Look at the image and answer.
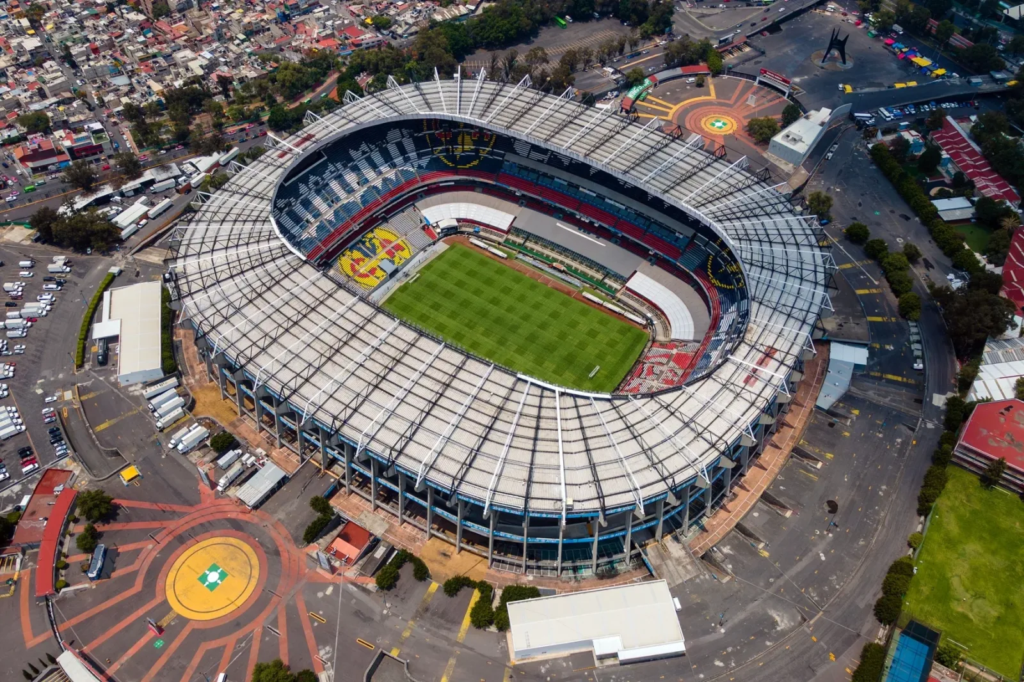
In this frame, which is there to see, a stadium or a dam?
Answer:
stadium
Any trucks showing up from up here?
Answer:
Yes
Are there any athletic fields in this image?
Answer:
Yes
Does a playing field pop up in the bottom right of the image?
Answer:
Yes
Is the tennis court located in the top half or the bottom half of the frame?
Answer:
bottom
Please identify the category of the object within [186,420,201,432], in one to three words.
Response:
vehicle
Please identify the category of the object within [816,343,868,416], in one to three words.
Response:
shed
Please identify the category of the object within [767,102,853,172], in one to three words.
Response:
building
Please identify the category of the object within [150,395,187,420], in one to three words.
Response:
truck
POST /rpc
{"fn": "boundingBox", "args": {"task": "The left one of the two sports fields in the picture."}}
[378,243,647,392]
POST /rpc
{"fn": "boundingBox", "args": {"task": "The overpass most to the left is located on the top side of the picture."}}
[723,0,817,36]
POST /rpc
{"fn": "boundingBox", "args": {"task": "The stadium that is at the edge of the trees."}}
[170,68,833,582]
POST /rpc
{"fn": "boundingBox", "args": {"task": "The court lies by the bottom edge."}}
[886,635,929,682]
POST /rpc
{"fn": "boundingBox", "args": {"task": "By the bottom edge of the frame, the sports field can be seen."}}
[901,468,1024,682]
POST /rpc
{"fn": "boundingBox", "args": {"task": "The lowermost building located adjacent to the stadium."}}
[508,579,686,671]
